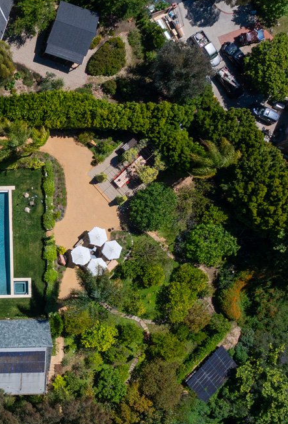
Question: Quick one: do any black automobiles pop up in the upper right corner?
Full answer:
Yes, you'll find a black automobile in the upper right corner.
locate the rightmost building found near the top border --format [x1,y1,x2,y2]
[43,4,98,64]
